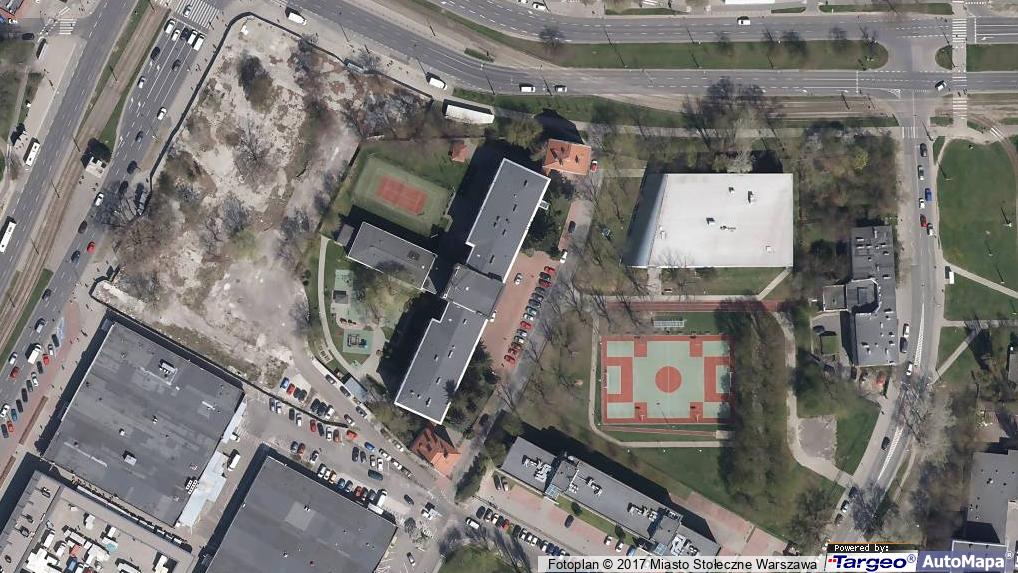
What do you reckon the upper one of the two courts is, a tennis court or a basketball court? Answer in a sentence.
Looking closely, the upper one of the two courts is a tennis court.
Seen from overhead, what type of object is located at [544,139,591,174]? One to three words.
house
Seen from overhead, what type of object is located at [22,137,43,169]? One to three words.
bus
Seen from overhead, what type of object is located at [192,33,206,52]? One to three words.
vehicle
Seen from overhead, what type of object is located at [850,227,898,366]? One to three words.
building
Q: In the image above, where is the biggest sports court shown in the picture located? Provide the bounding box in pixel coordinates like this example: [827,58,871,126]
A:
[601,336,736,423]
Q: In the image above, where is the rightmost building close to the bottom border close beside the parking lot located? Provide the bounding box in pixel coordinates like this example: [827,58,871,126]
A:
[500,436,721,572]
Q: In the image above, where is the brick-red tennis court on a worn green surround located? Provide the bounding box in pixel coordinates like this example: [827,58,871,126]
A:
[354,154,450,234]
